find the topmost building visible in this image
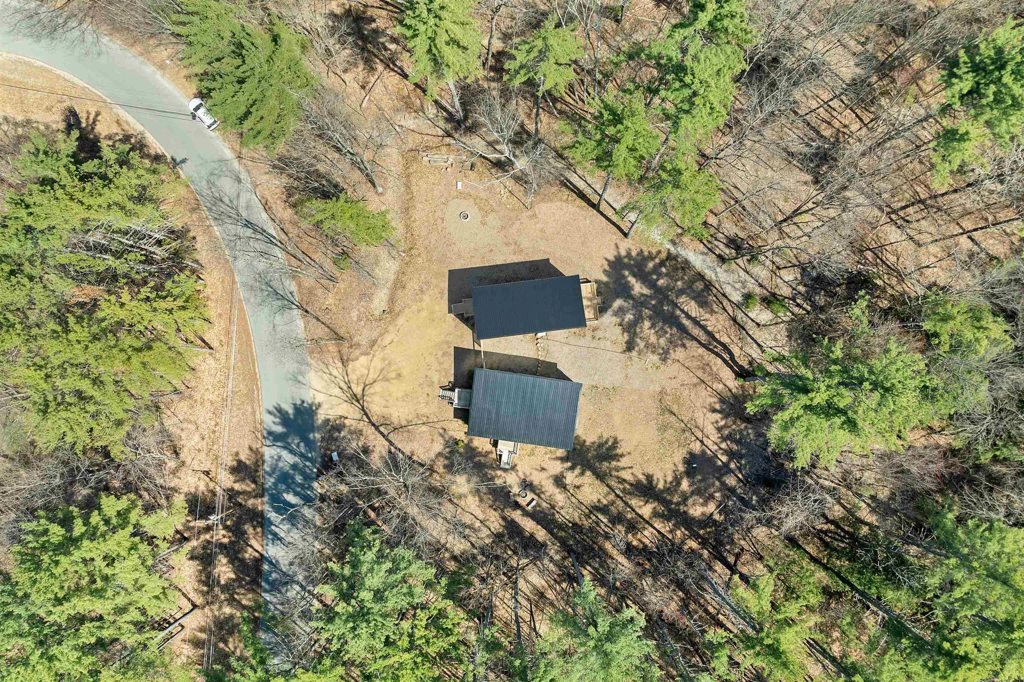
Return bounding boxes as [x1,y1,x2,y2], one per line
[452,274,605,340]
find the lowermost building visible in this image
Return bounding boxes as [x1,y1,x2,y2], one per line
[437,368,582,472]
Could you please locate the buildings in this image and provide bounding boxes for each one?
[437,368,582,472]
[452,274,605,340]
